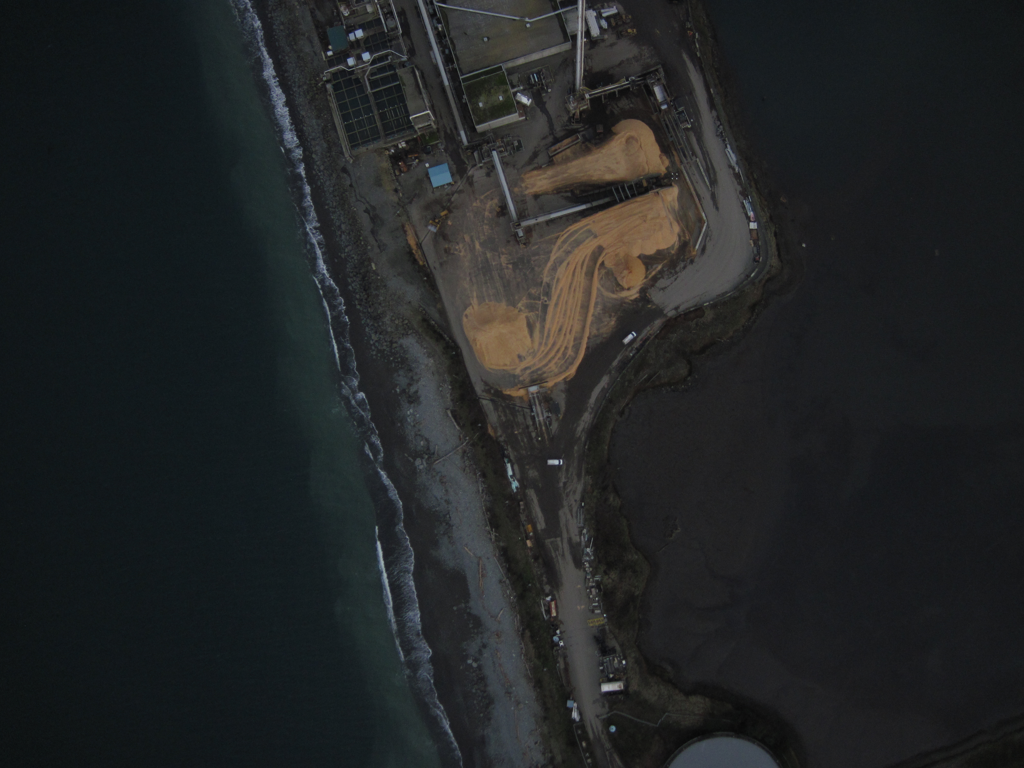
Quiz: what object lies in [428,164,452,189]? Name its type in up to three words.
shed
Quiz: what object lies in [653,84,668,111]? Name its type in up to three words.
vehicle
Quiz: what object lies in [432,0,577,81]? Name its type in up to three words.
building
